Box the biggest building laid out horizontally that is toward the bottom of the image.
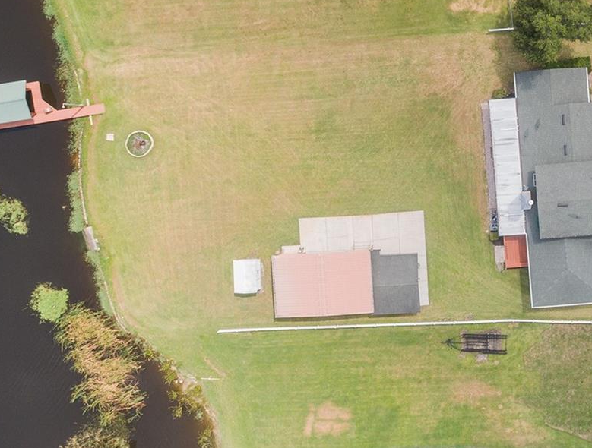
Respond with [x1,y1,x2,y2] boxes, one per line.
[272,250,421,320]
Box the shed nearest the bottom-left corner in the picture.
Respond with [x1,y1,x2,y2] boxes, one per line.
[234,258,267,295]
